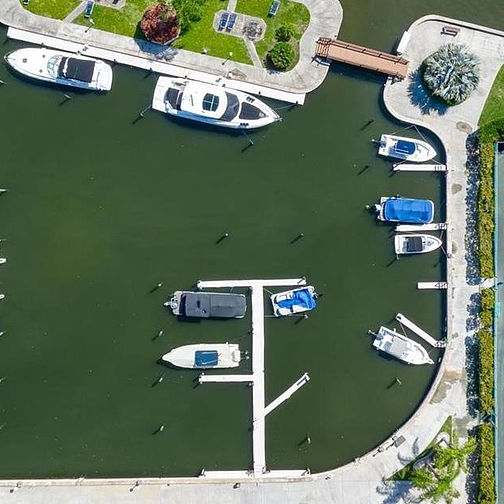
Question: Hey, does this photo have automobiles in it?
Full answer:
No, the scene contains no automobile.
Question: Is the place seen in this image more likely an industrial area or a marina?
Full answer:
What you see here is a marina.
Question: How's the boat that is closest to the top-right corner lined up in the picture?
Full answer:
In this picture, the boat that is closest to the top-right corner lies horizontally.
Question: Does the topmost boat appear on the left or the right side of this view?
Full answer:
You can find the topmost boat on the left side of the picture.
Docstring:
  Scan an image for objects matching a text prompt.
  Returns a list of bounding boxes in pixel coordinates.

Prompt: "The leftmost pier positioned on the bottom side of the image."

[198,277,310,476]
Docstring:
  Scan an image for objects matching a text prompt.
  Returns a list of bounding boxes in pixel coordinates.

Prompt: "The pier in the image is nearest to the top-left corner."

[7,27,305,103]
